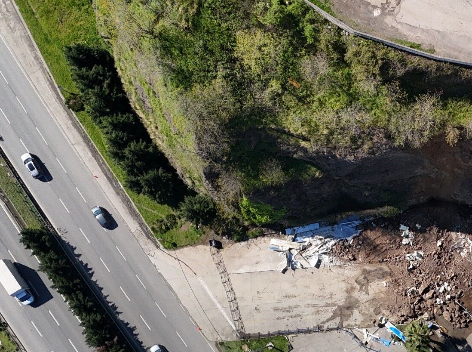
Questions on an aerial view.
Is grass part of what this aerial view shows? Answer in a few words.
Yes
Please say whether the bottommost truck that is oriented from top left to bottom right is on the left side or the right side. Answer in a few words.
left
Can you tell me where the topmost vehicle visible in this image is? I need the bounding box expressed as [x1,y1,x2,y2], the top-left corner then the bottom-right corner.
[22,153,44,181]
